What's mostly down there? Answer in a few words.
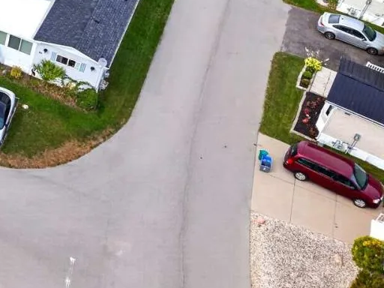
paved ground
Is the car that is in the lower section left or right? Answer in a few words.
right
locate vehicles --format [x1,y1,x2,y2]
[287,140,384,211]
[0,81,21,144]
[317,8,384,54]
